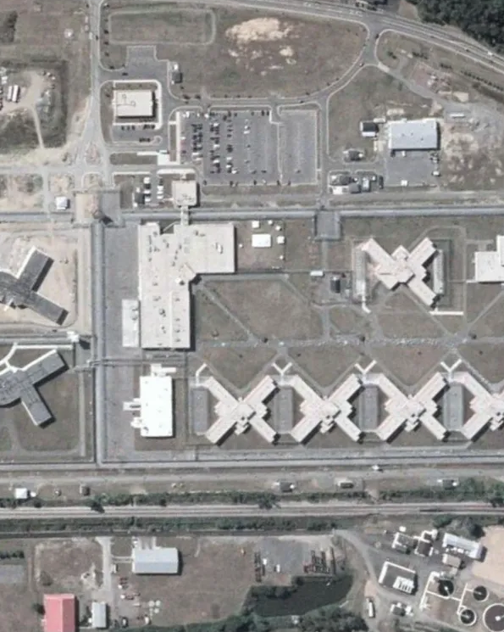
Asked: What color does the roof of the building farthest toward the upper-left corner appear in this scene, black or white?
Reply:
white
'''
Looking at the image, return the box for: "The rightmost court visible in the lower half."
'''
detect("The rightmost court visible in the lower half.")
[445,384,463,430]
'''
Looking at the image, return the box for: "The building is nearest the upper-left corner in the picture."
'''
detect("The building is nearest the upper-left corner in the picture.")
[114,89,153,116]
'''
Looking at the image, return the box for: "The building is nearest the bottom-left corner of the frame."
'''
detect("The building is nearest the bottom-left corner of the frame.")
[42,593,74,632]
